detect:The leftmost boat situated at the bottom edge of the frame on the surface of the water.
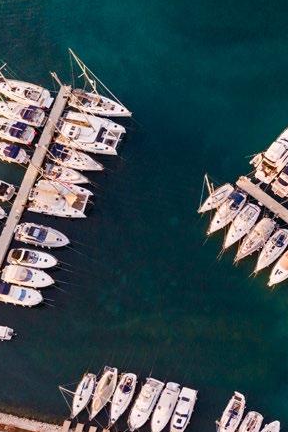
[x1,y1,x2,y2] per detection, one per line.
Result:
[58,372,98,425]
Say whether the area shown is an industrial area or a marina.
marina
